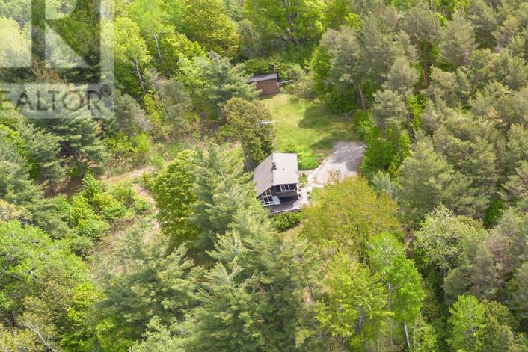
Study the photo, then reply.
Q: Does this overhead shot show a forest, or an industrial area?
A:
forest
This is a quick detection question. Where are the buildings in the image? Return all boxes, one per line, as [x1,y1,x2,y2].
[246,70,282,98]
[253,152,305,216]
